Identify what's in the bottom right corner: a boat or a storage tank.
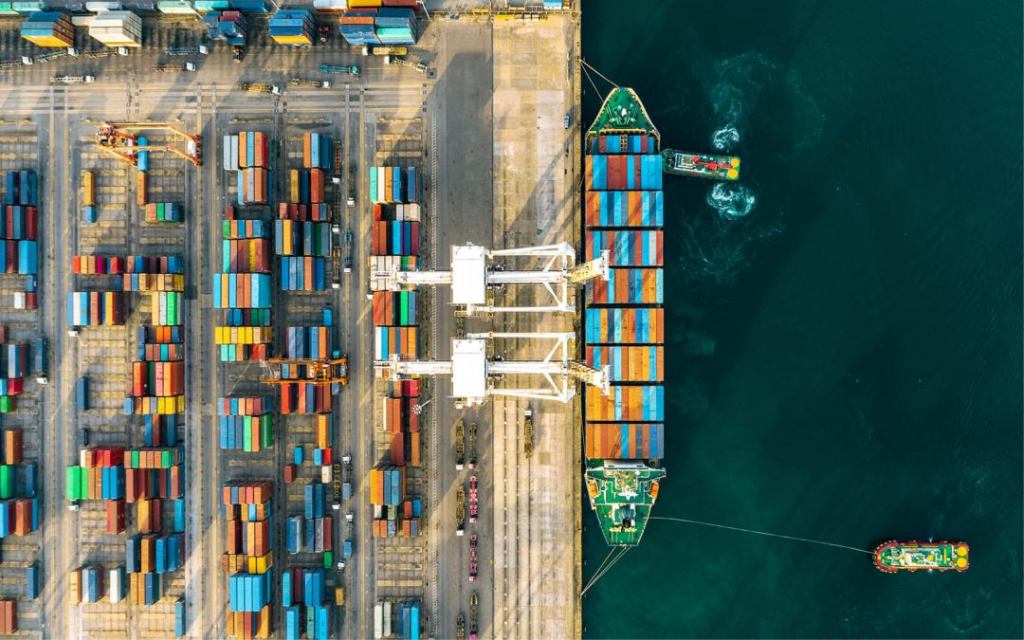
boat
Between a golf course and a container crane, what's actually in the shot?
container crane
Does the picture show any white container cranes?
Yes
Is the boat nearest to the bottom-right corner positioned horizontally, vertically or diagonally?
horizontally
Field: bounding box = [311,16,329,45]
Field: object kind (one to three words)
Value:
work vehicle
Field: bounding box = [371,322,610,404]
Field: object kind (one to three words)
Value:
container crane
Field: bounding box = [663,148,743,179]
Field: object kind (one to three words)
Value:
boat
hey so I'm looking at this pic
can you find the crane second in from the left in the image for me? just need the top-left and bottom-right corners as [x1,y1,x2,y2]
[258,352,349,387]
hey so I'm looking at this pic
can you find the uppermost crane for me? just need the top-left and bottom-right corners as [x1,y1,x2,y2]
[95,123,200,164]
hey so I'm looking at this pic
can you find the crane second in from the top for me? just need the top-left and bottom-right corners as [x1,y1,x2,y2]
[371,243,610,319]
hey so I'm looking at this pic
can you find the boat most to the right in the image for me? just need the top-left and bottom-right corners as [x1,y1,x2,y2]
[871,542,970,574]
